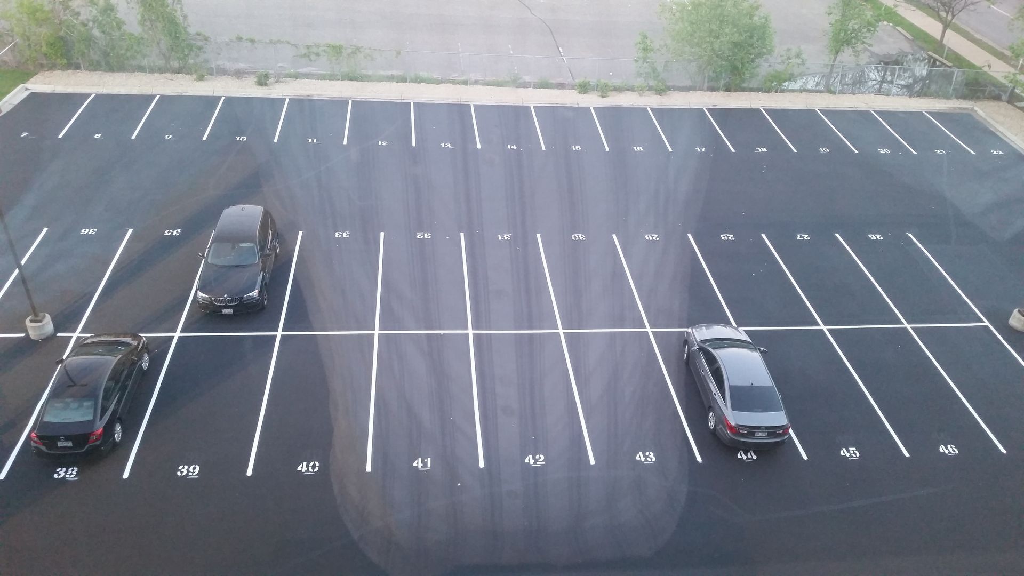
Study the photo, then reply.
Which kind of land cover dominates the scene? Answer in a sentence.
What you mostly see from above here is paved ground.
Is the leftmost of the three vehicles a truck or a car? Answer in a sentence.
Looking closely, the leftmost of the three vehicles is a car.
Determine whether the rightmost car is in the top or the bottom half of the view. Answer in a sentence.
It is in the bottom half that the rightmost car appears.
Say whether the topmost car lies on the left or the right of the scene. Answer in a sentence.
The topmost car appears in the left half of the scene.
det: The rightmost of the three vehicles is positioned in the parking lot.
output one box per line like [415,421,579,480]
[682,324,797,451]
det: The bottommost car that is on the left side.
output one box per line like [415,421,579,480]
[26,332,148,462]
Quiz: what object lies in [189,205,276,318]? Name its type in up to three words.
car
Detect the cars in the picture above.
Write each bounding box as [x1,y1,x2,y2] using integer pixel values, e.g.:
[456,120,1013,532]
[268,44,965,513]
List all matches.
[682,324,797,451]
[189,205,276,318]
[26,332,148,462]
